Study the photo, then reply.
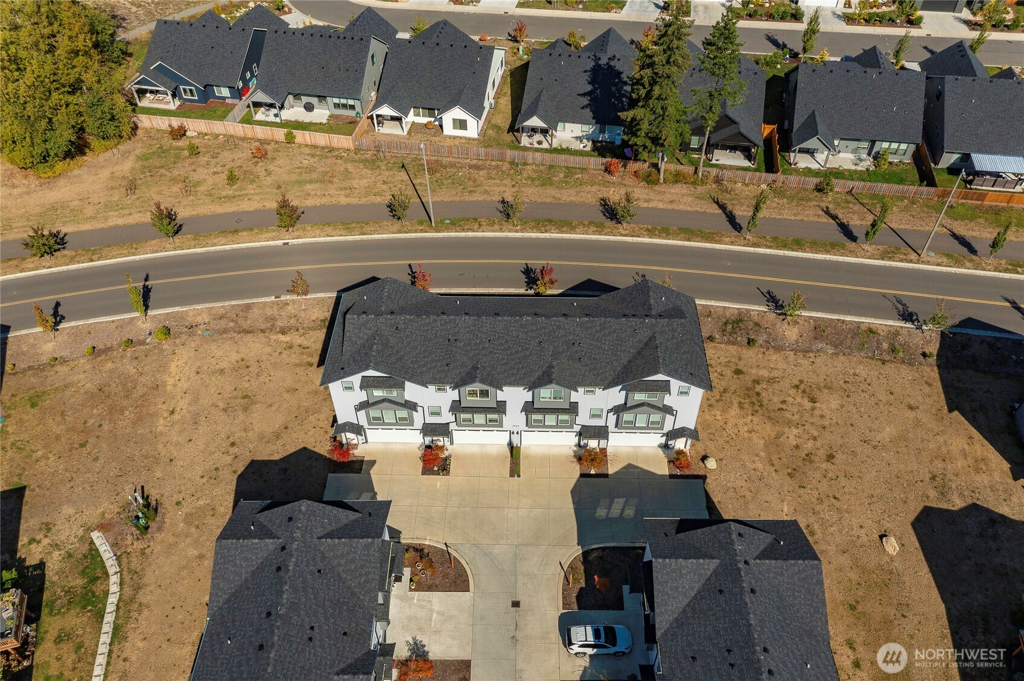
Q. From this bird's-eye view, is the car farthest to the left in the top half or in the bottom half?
bottom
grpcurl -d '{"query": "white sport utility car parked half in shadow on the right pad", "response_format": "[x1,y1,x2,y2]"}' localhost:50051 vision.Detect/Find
[566,622,631,657]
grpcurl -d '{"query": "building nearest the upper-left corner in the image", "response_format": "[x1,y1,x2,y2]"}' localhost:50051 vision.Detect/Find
[129,3,291,110]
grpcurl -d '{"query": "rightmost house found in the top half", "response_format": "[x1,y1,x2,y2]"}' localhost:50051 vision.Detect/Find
[918,40,1024,194]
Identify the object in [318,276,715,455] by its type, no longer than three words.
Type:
house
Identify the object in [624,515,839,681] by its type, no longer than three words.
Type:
house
